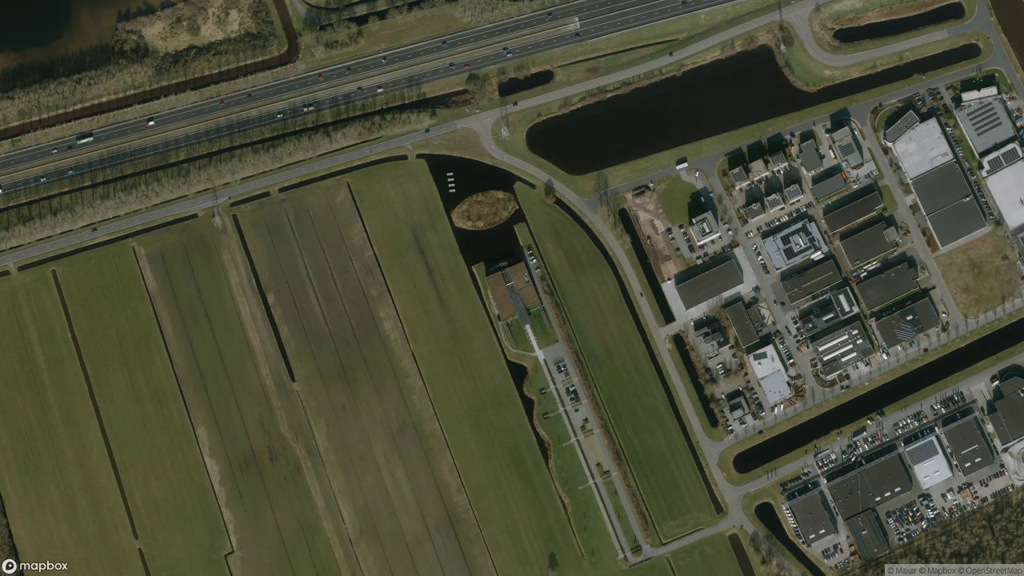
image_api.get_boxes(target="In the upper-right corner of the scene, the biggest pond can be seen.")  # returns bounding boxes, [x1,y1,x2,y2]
[833,1,965,43]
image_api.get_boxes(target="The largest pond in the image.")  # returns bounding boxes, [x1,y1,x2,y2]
[416,154,702,558]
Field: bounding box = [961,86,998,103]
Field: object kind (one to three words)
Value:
building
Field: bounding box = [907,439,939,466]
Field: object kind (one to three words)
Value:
solar panel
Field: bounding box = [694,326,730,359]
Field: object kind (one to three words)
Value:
building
